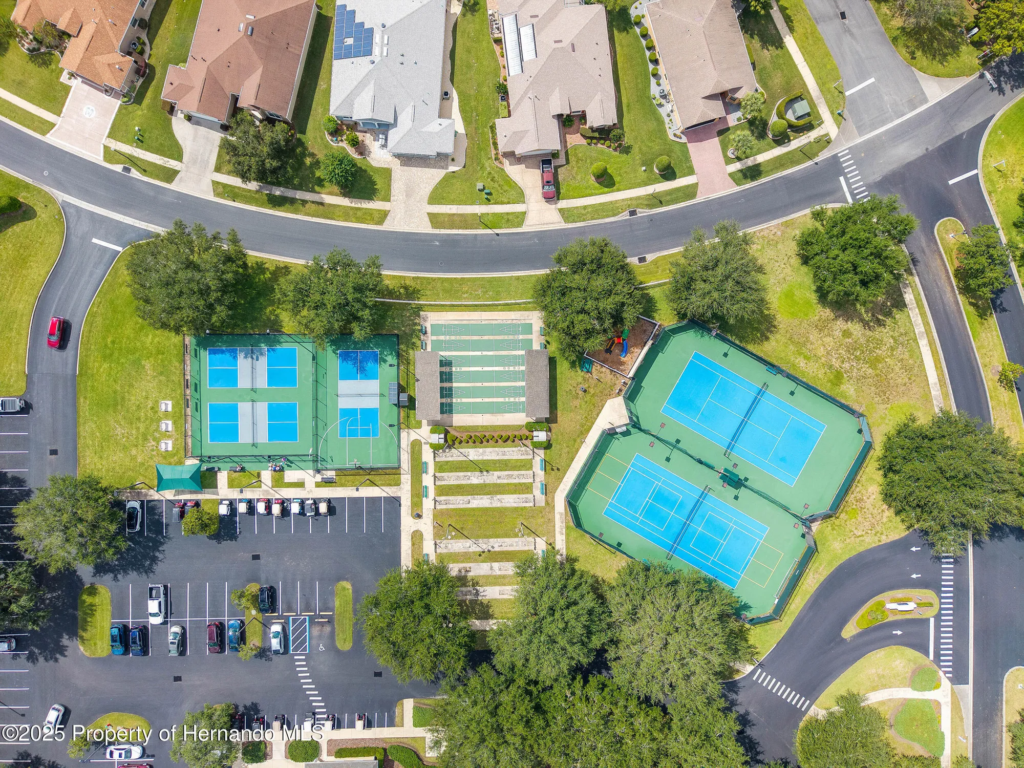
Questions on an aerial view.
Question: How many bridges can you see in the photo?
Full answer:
The count of bridges is 0.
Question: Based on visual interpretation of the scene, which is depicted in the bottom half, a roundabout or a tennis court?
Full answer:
The feature located in the bottom half is a tennis court.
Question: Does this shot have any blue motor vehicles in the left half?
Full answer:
Yes, a blue motor vehicle is visible in the left half.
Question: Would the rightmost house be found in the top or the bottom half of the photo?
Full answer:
You can find the rightmost house in the top half.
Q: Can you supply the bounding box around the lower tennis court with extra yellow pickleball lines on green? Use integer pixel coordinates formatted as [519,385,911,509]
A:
[566,423,808,619]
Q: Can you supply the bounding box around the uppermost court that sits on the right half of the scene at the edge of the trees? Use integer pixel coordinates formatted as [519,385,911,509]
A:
[624,321,863,518]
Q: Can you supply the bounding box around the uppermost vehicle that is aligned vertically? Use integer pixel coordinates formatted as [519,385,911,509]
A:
[540,158,557,200]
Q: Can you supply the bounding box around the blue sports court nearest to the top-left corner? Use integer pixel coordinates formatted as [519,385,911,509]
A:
[207,347,298,389]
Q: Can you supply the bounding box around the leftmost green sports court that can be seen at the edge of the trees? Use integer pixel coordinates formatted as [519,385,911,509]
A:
[191,334,317,470]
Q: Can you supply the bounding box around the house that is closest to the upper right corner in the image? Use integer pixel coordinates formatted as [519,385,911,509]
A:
[643,0,756,134]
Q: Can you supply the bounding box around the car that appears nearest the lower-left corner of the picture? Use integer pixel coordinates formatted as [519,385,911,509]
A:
[43,700,66,734]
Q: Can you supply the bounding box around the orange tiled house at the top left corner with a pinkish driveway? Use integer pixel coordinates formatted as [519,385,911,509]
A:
[10,0,150,93]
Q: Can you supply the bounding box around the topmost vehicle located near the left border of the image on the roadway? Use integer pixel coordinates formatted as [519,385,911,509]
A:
[46,316,67,349]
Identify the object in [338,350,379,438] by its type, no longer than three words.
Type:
sports court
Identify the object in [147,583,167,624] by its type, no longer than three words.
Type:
vehicle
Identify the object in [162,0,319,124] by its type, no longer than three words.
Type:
house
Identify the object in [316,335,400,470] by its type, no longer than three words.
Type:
basketball court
